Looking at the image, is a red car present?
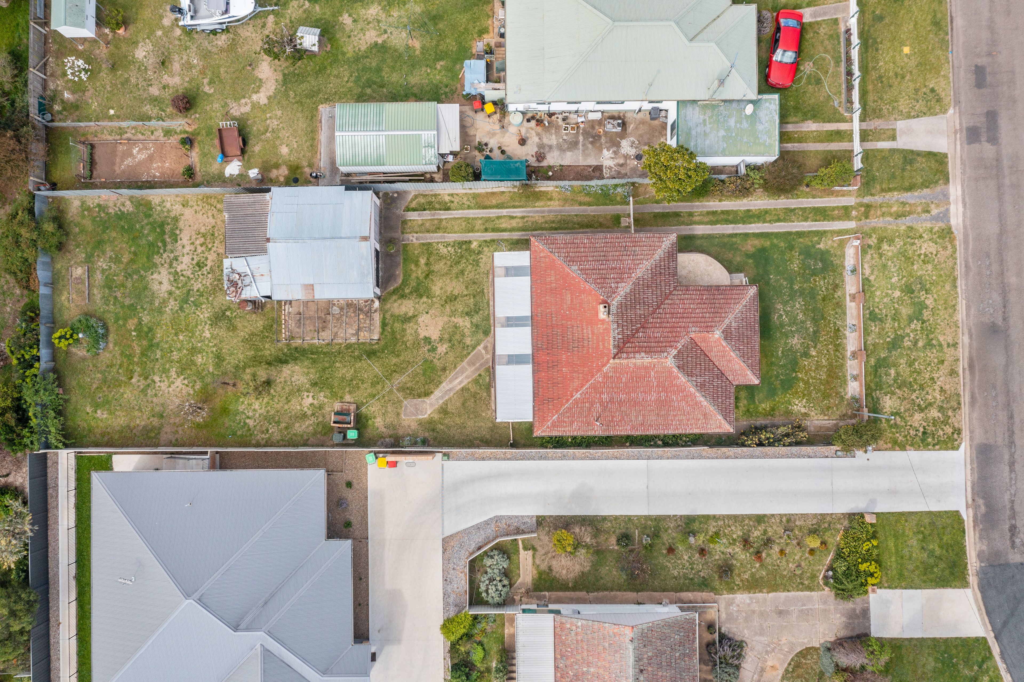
Yes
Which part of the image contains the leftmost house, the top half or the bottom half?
top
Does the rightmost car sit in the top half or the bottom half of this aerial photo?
top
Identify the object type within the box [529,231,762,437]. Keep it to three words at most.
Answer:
house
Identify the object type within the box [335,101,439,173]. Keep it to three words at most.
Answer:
shed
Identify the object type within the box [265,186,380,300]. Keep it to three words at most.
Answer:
shed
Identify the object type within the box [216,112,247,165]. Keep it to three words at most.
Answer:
trailer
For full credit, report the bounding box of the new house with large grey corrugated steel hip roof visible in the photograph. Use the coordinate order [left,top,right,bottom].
[89,467,372,682]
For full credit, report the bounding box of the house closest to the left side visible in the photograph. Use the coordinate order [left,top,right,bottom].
[48,0,107,46]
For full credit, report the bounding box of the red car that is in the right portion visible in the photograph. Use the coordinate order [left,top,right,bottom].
[763,8,805,91]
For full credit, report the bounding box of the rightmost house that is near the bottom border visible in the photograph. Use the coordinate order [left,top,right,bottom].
[520,604,698,682]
